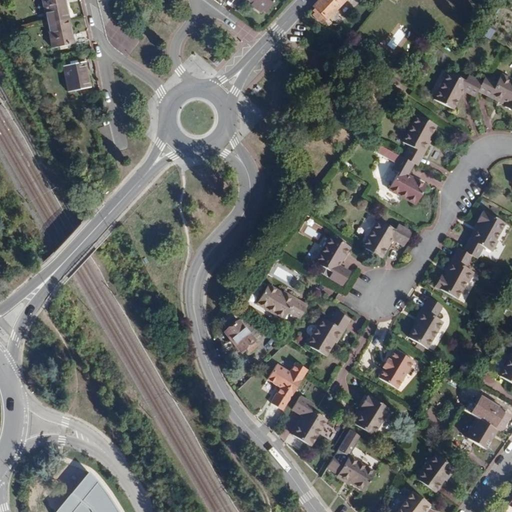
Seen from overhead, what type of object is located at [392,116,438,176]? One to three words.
house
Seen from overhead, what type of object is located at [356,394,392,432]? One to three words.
house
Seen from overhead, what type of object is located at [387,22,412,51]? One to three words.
building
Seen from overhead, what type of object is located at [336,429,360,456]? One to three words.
barn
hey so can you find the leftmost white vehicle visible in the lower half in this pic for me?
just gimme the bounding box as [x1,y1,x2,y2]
[268,446,293,473]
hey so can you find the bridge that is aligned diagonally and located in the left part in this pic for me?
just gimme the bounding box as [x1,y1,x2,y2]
[44,211,106,288]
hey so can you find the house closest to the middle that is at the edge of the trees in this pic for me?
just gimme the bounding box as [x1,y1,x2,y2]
[260,286,310,320]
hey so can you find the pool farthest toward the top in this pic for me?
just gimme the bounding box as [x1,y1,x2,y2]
[379,162,396,187]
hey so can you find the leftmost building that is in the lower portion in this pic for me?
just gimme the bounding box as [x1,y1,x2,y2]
[58,472,116,512]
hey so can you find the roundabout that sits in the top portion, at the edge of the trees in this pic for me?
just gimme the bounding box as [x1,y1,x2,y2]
[158,79,237,158]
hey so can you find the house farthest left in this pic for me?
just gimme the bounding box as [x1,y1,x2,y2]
[40,0,76,50]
